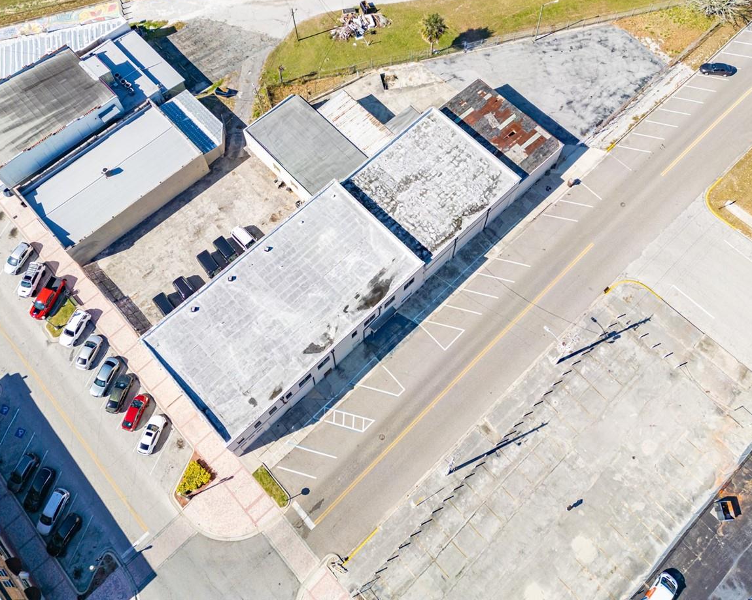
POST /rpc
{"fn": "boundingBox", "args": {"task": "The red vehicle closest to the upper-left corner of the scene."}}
[26,274,73,323]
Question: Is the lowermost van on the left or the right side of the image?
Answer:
right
